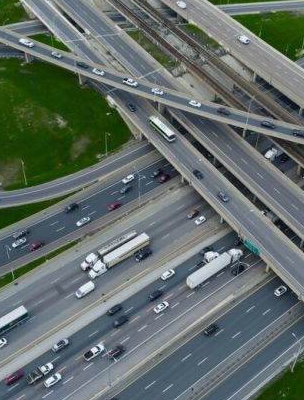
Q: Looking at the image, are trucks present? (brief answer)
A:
Yes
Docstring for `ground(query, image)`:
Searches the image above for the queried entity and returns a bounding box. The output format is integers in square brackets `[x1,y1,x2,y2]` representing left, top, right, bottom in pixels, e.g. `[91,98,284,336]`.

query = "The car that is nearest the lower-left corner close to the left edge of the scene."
[4,371,23,386]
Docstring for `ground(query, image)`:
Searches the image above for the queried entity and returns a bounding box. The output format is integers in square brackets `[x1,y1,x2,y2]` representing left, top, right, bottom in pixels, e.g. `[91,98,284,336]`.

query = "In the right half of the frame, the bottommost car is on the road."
[202,324,218,338]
